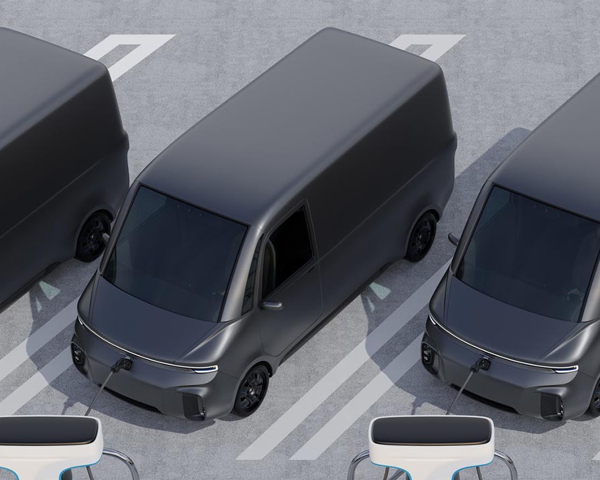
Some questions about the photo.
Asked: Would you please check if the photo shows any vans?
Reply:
Yes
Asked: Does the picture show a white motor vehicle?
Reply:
No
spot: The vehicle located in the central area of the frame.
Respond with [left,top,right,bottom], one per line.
[66,29,456,426]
